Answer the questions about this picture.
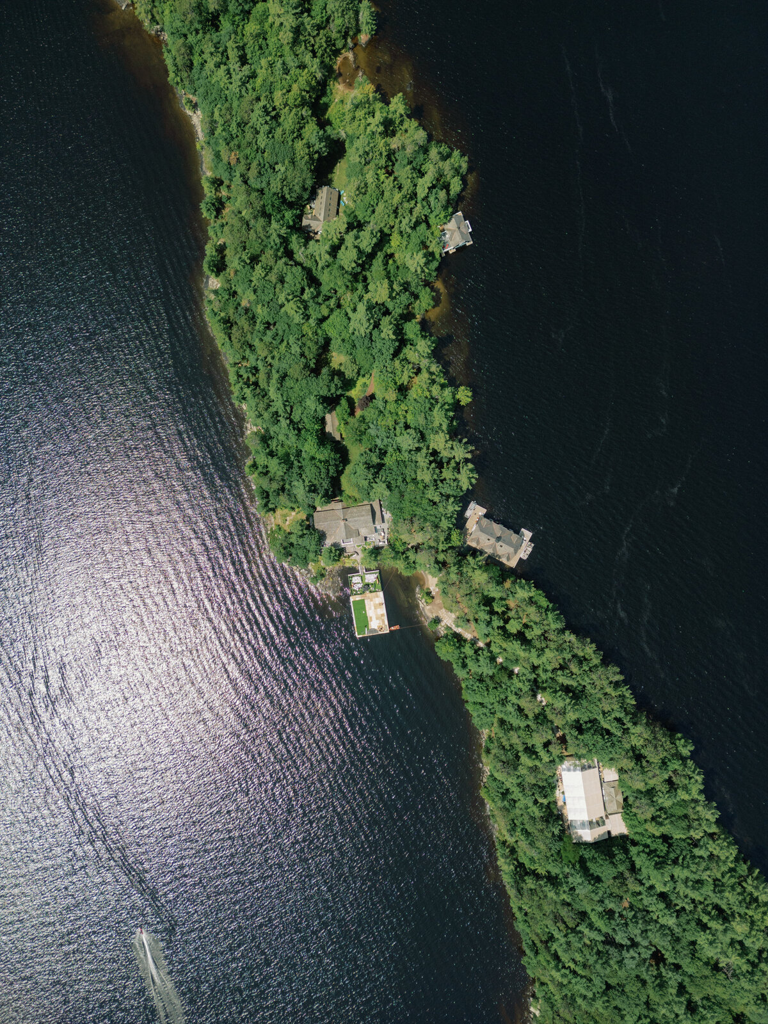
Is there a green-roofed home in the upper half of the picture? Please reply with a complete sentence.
No, I can find no green-roofed home in the upper half of the picture.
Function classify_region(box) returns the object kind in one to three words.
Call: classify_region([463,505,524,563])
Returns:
building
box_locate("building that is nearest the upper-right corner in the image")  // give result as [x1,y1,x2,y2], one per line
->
[439,211,473,257]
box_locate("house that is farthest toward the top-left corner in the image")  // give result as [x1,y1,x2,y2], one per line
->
[302,186,339,238]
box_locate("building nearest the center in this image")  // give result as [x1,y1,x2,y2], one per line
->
[310,499,392,553]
